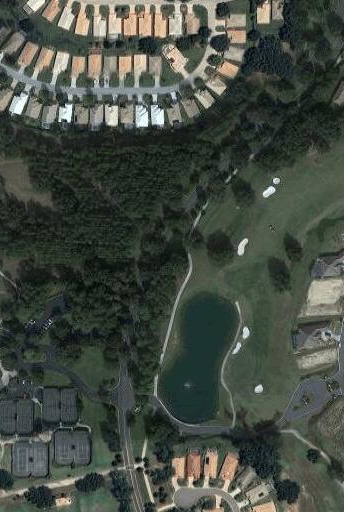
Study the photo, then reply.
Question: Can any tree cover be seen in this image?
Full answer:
Yes, tree cover shows up in the scene.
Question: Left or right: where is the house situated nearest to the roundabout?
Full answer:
It is on the right.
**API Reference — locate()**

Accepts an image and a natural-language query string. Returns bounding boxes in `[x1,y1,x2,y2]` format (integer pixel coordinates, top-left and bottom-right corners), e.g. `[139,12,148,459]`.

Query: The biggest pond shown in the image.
[158,289,236,424]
